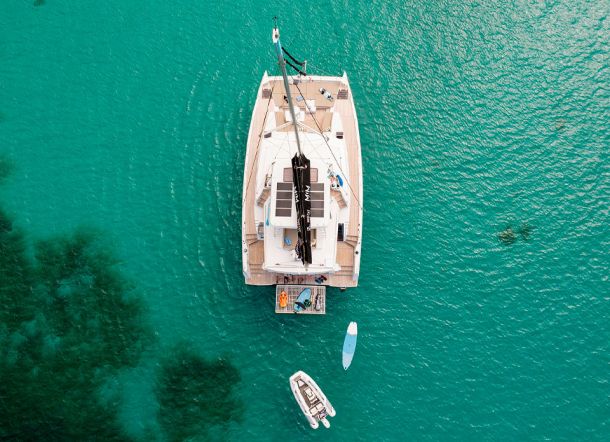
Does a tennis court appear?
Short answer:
No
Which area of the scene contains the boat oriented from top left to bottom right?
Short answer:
bottom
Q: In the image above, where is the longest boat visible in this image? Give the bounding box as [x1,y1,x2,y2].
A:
[242,9,363,315]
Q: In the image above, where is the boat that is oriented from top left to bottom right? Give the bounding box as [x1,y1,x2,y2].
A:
[293,372,334,429]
